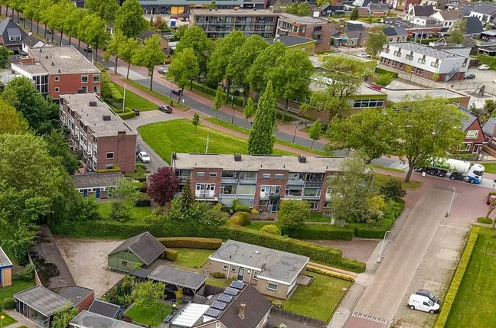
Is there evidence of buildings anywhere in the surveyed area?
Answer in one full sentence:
Yes, the image includes a building.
